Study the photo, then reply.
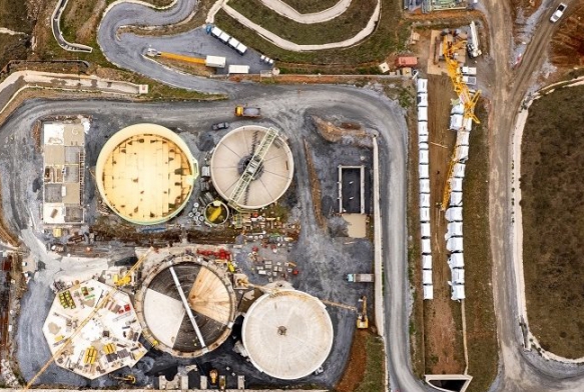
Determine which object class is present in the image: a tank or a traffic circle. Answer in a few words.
tank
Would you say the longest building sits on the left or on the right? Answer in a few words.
left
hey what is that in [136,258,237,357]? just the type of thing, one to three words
storage tank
